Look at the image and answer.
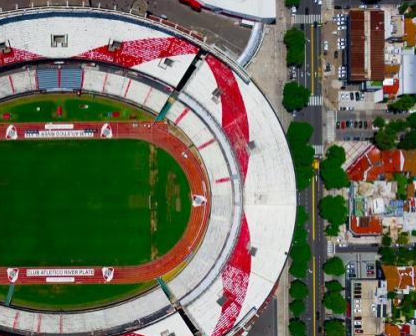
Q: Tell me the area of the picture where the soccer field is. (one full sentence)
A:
The soccer field appears toward the left of the photo.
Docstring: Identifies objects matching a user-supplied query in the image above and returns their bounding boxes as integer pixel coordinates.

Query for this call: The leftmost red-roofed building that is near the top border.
[344,9,385,82]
